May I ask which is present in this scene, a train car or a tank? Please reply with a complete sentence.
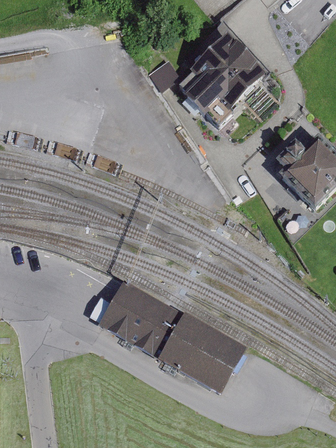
The image shows a train car.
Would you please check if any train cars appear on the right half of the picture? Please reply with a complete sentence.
No, I see no train car on the right half of the picture.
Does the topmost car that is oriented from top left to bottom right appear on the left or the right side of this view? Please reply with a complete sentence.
The topmost car that is oriented from top left to bottom right sits on the right side.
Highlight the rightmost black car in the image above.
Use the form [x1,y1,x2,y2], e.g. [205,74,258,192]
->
[28,250,41,274]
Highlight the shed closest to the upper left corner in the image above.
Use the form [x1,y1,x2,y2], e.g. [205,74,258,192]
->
[148,61,178,94]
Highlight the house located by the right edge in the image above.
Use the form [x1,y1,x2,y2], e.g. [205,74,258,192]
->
[276,134,336,212]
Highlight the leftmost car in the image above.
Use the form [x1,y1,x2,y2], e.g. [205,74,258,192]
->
[11,246,24,267]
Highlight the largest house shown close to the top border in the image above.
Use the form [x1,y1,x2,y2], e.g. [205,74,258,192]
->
[179,22,266,130]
